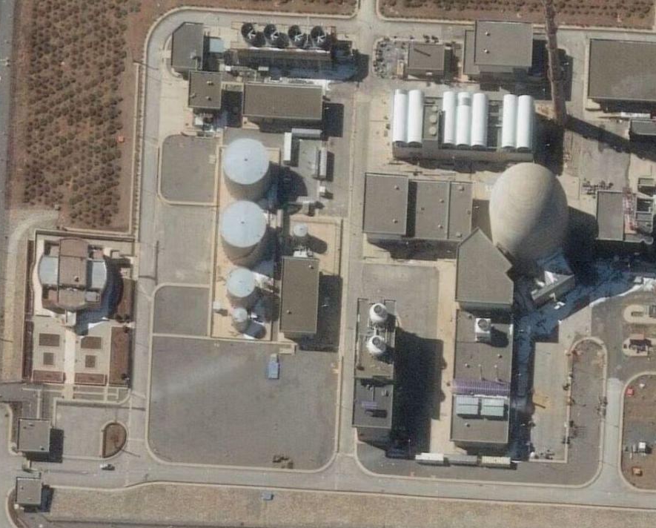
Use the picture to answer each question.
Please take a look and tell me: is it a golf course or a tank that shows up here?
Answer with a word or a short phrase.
tank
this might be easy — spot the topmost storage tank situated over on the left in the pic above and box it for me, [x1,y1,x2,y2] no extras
[223,137,274,202]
